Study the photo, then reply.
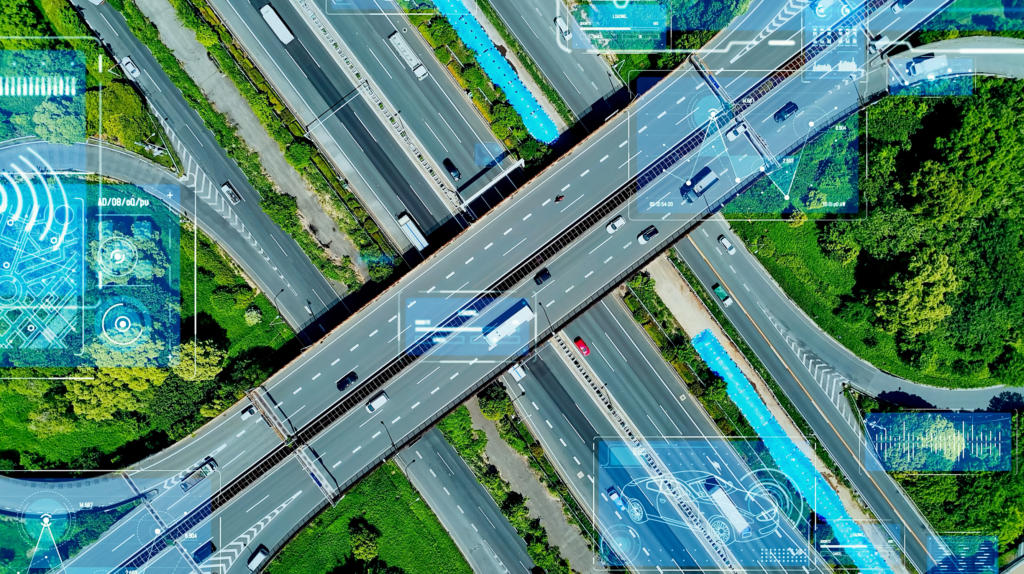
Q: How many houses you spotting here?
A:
zero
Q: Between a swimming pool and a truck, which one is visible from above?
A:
truck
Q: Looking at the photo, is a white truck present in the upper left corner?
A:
Yes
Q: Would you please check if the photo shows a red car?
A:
Yes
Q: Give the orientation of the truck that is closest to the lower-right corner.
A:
at an angle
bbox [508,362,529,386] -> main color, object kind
white truck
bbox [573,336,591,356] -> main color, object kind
red car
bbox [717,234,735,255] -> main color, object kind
white car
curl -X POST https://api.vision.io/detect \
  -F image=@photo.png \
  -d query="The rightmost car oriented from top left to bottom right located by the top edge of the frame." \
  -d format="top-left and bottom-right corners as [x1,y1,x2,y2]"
[554,16,572,40]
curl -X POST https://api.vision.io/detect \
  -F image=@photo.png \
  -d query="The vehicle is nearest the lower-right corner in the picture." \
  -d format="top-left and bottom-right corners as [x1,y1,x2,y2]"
[707,480,752,536]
